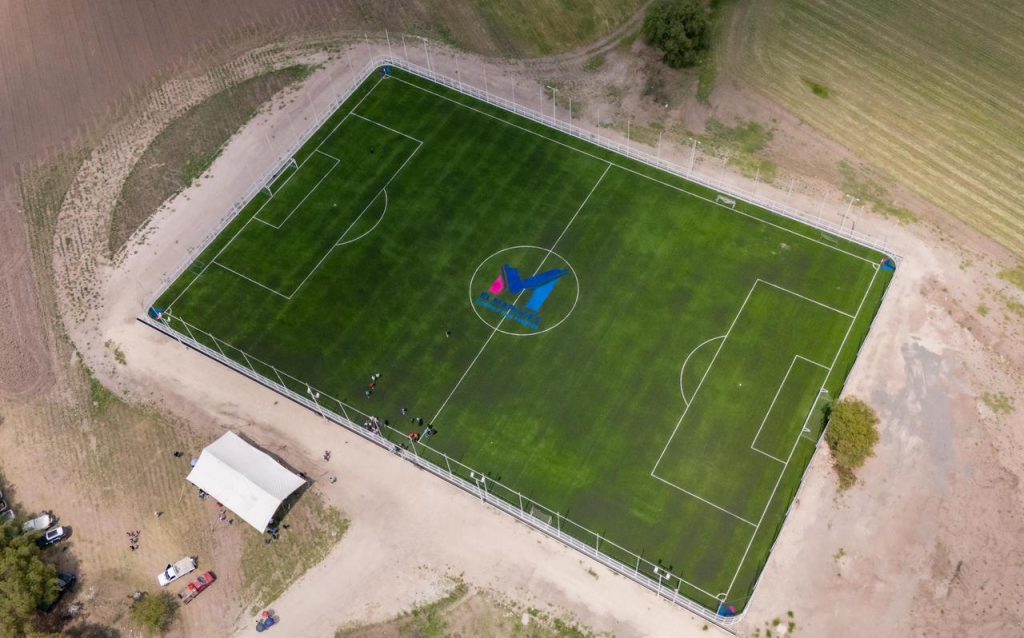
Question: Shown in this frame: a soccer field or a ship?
soccer field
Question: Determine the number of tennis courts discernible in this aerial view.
zero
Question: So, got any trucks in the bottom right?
No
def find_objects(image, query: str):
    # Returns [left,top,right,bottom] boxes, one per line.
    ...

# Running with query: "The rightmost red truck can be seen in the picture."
[177,571,218,607]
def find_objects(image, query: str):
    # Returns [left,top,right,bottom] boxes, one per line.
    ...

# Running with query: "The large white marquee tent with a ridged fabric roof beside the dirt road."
[181,429,325,553]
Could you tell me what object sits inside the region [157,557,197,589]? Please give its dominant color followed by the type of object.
white truck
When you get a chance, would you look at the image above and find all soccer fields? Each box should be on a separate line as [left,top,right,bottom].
[151,66,895,615]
